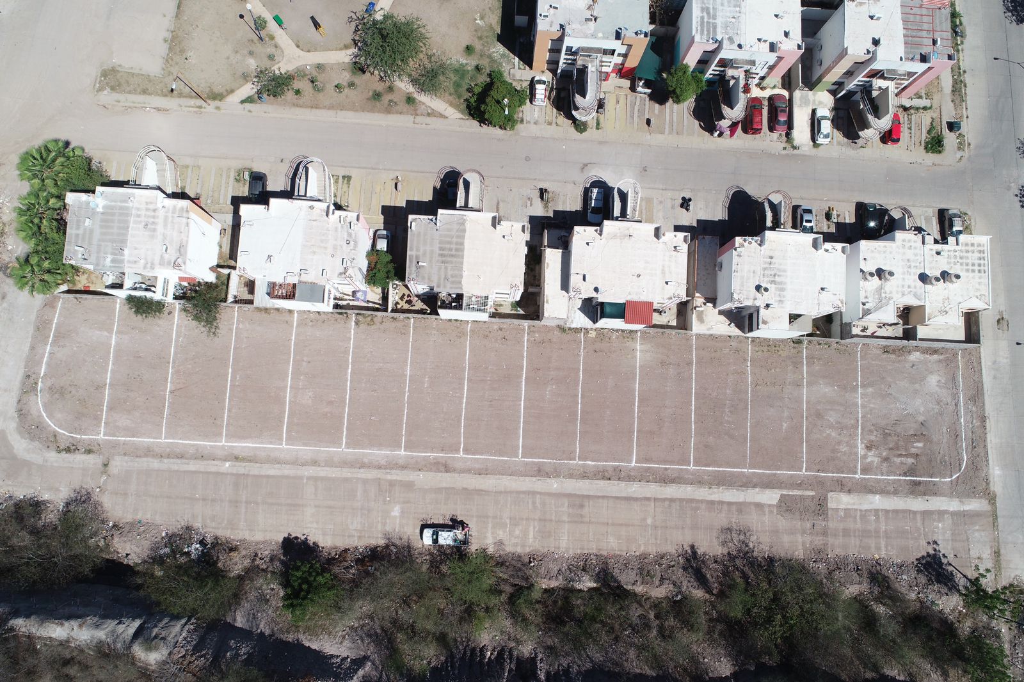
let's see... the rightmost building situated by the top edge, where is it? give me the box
[813,0,957,138]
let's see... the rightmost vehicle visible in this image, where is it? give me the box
[942,207,964,243]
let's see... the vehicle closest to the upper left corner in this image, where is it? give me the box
[248,168,268,205]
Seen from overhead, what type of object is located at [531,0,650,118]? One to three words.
building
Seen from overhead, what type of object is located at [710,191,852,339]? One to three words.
building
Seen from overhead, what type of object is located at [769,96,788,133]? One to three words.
car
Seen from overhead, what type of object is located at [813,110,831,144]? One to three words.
car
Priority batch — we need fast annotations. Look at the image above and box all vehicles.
[374,224,391,256]
[745,98,764,135]
[882,116,900,145]
[813,110,831,144]
[942,207,964,243]
[587,187,604,224]
[532,76,548,107]
[423,527,468,548]
[797,201,816,235]
[769,96,788,133]
[248,168,268,205]
[444,172,461,207]
[634,64,651,98]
